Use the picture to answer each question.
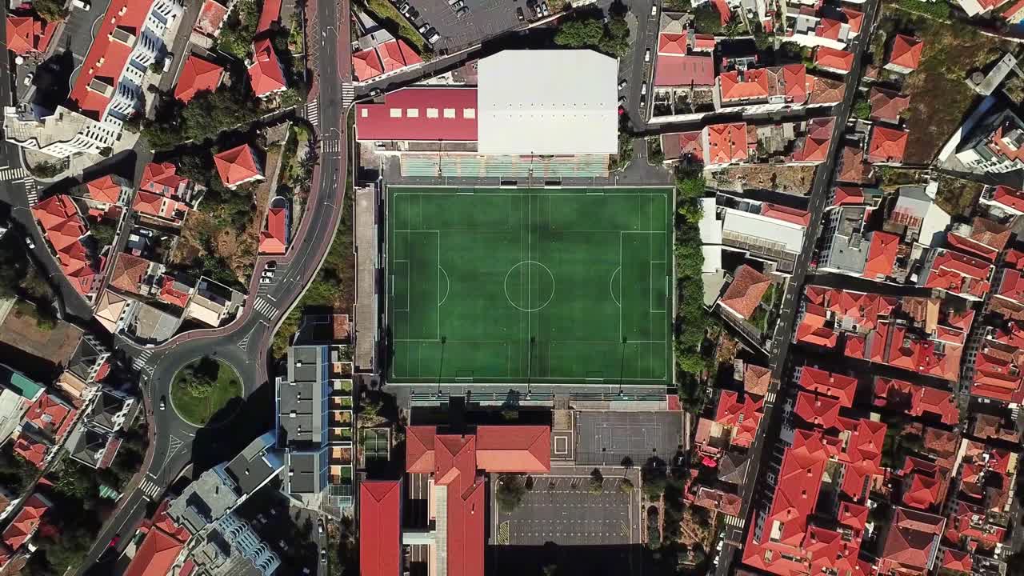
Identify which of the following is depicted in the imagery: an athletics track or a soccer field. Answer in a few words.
soccer field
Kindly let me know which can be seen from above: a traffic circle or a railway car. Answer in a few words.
traffic circle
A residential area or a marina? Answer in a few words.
residential area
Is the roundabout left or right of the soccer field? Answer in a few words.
on the left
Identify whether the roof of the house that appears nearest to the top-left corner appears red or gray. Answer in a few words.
red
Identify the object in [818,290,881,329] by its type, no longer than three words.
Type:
house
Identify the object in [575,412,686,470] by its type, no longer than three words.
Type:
sports court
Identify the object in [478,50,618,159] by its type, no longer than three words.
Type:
building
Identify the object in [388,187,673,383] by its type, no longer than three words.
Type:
soccer field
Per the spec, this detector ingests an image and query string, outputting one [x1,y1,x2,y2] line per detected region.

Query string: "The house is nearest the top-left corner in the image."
[6,17,64,54]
